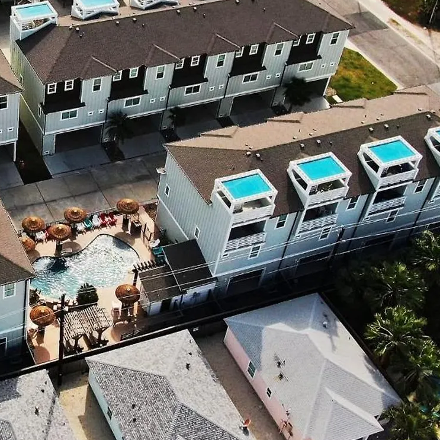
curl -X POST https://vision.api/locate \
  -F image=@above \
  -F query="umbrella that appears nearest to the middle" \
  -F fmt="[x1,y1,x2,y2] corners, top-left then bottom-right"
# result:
[114,202,140,227]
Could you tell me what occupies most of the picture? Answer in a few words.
buildings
